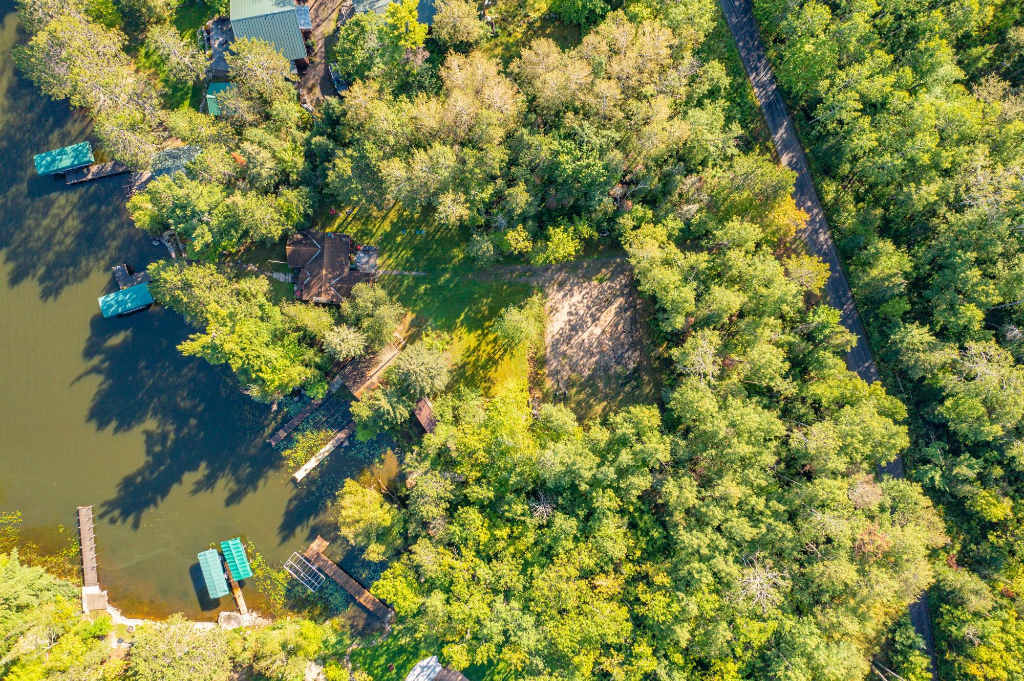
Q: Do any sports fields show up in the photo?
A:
No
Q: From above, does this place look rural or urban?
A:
rural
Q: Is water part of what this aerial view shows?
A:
Yes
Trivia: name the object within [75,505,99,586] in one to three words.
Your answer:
pier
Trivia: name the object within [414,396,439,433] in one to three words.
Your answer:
shed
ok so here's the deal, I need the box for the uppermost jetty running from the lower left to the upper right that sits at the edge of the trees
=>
[268,392,333,447]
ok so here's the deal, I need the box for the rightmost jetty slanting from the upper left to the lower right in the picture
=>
[302,535,393,622]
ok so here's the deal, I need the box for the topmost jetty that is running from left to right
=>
[65,162,130,185]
